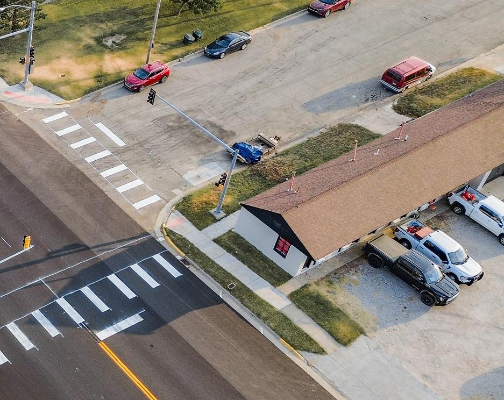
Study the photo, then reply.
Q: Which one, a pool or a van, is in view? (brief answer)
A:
van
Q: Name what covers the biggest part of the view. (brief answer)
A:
paved ground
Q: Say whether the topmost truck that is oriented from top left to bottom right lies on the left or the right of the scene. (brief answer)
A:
right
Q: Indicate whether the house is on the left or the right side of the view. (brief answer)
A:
right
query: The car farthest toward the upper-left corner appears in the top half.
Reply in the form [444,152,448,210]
[124,59,172,91]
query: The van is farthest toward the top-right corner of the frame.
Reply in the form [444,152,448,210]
[378,57,437,92]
